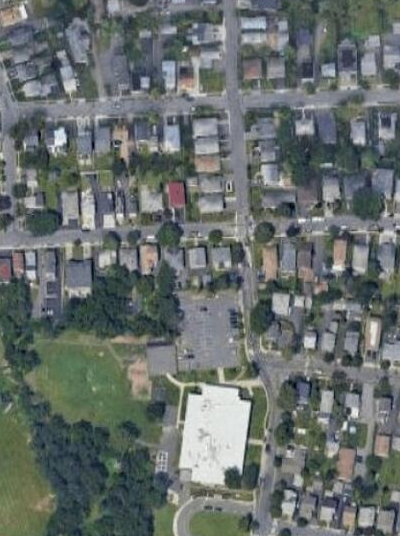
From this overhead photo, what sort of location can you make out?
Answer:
residential area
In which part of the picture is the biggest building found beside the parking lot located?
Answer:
bottom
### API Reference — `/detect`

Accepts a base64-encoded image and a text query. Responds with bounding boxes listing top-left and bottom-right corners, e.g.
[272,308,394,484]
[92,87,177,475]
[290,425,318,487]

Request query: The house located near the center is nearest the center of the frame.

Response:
[190,244,206,272]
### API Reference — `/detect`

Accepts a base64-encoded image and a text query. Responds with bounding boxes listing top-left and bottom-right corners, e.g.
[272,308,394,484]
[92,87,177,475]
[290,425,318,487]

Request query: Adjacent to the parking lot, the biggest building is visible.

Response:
[179,385,252,486]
